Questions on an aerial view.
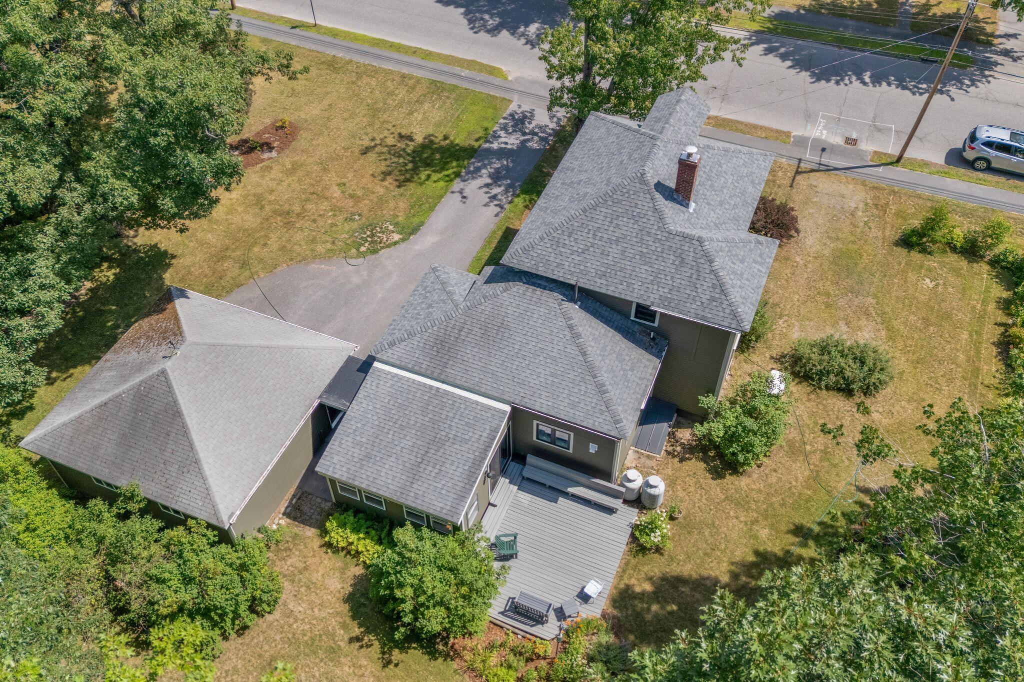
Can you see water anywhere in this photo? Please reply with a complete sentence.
No, the picture contains no water.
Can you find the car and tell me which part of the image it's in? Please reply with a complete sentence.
The car is located in the top right region of the scene.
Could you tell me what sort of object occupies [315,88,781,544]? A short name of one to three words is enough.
house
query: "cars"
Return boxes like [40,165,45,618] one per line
[968,117,1024,173]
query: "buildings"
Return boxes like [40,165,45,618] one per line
[315,88,781,544]
[19,285,362,550]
